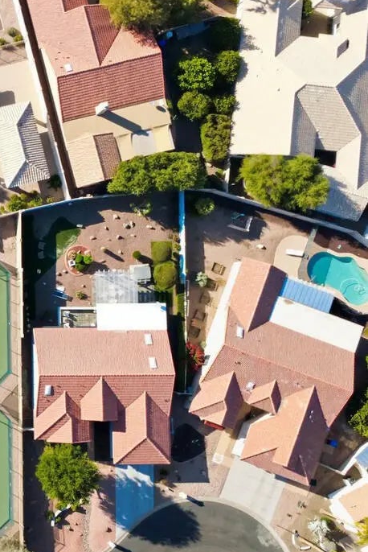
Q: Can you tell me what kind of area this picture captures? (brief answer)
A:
residential area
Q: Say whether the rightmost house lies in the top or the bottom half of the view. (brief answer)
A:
bottom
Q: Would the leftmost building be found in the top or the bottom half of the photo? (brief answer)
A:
top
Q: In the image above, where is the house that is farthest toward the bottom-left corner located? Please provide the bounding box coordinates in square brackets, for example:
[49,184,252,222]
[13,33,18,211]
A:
[29,302,175,465]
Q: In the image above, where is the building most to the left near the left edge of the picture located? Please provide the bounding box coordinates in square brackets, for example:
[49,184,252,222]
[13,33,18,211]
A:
[0,100,50,189]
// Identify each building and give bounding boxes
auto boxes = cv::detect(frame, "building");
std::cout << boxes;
[317,434,368,523]
[223,0,368,226]
[0,100,50,189]
[182,258,363,486]
[125,264,149,280]
[24,0,174,188]
[29,302,175,465]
